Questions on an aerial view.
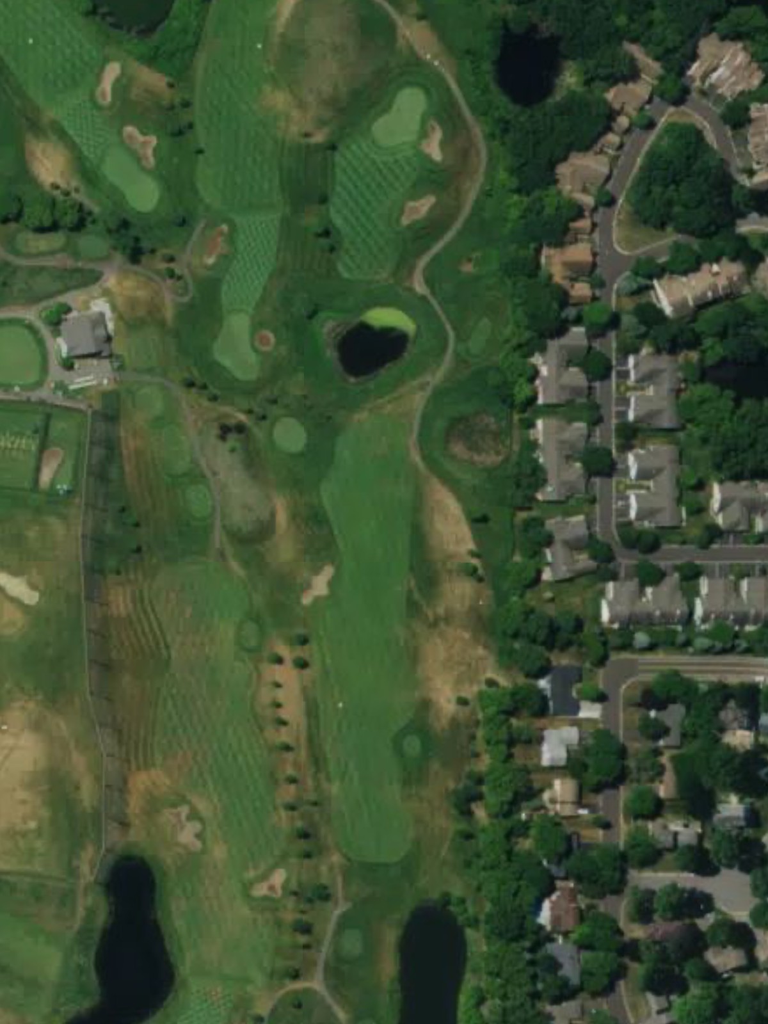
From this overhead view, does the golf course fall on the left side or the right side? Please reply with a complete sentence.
The golf course appears in the left half of the scene.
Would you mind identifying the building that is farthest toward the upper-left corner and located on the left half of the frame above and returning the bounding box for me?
[58,300,114,357]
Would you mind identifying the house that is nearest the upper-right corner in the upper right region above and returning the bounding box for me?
[682,29,768,97]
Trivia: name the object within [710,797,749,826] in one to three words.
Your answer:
house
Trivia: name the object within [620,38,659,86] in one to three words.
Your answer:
house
